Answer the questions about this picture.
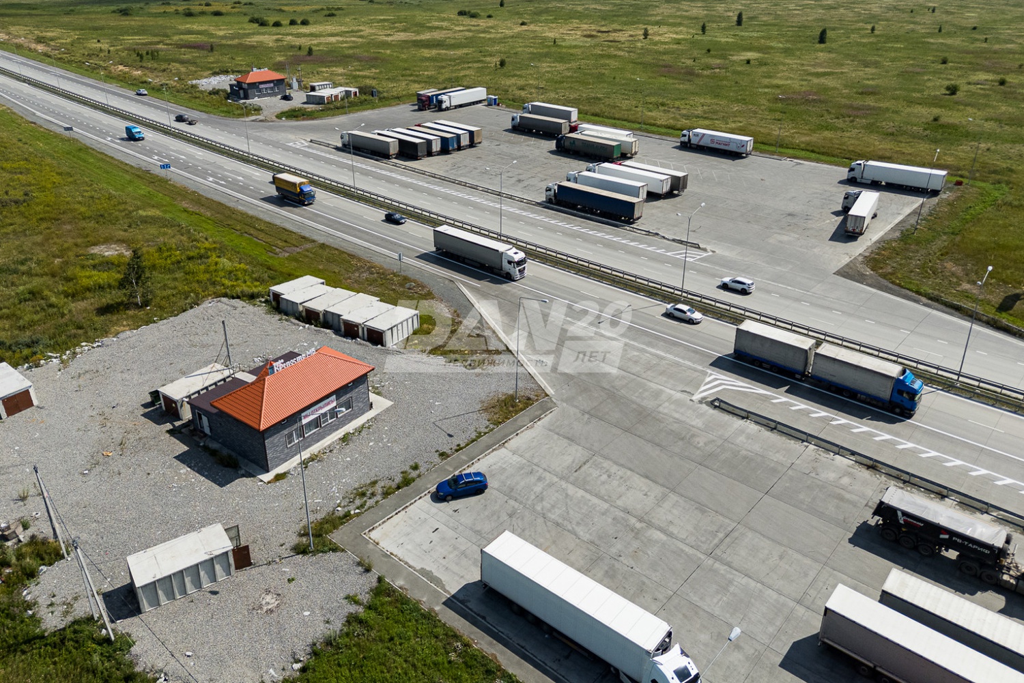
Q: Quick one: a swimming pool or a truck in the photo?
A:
truck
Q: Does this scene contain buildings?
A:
Yes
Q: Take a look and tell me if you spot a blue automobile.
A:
Yes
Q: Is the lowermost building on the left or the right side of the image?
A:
left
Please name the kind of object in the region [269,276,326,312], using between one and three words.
building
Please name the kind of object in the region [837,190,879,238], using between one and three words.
truck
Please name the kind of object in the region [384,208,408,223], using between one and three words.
car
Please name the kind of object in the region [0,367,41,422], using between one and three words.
building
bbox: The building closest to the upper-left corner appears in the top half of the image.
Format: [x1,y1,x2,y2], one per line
[223,64,297,101]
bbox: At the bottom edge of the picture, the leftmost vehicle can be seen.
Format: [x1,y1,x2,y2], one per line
[482,531,711,683]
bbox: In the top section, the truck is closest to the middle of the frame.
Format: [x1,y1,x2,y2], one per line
[433,224,532,283]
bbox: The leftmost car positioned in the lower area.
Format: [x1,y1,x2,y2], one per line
[440,469,498,501]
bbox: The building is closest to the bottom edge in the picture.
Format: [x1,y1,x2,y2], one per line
[128,526,253,613]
